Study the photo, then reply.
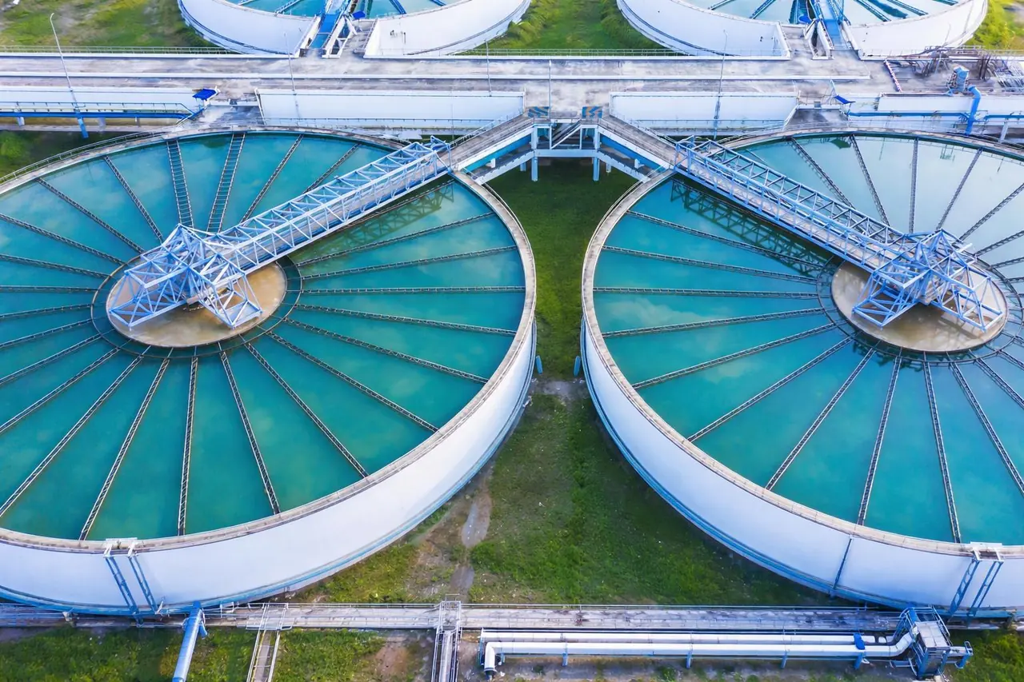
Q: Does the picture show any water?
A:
Yes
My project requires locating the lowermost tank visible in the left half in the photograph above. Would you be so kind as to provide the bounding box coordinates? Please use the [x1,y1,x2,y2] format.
[0,117,538,610]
